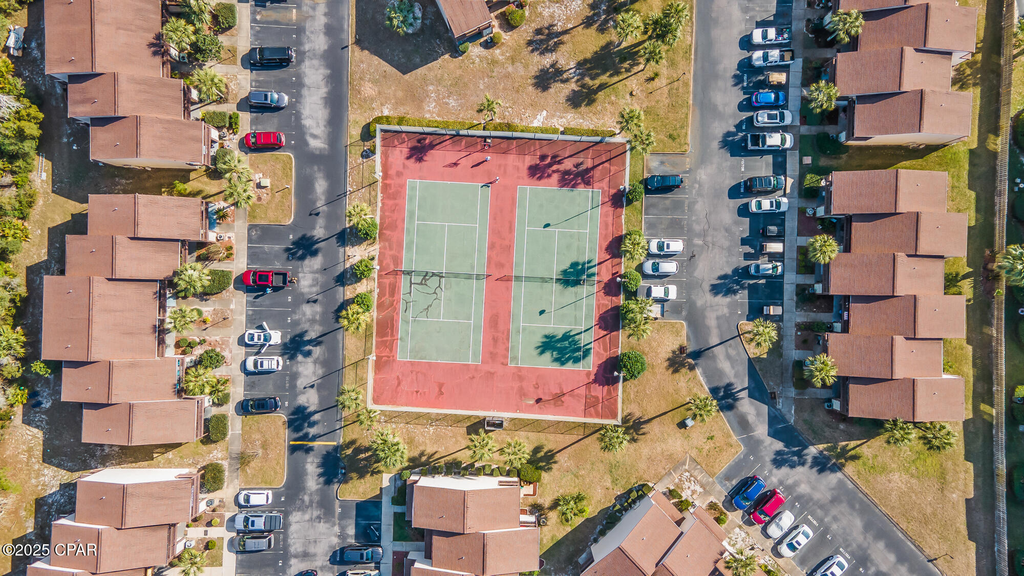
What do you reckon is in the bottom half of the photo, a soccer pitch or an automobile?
automobile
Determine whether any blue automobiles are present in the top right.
Yes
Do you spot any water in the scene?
No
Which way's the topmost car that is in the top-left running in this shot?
from left to right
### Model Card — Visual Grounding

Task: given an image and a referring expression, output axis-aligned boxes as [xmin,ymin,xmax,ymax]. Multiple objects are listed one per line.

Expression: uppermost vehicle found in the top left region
[249,45,295,66]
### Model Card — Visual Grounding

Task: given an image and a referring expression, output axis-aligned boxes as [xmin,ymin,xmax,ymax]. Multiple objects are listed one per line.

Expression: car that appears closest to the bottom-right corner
[814,551,846,576]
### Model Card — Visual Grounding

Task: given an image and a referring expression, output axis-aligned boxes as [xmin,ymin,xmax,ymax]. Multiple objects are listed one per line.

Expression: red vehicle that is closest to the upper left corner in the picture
[245,130,286,149]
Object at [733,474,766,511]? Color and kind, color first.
blue car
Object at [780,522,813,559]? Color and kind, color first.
white car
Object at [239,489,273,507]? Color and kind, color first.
white car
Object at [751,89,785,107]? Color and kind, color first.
blue car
